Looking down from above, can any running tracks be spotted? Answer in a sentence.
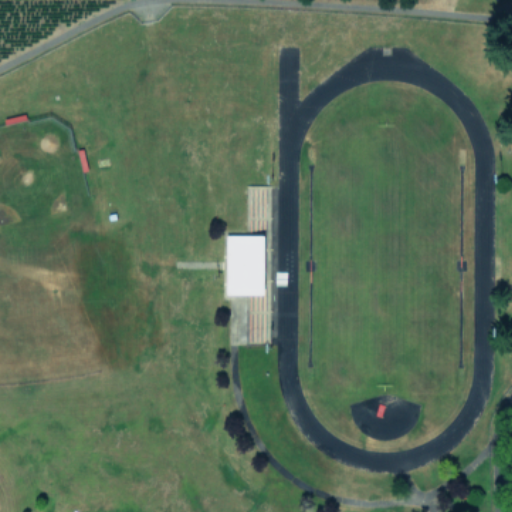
Yes, the picture does show a running track.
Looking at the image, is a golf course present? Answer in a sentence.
No, the scene contains no golf course.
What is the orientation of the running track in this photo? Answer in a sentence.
The running track has been laid out up and down relative to the frame.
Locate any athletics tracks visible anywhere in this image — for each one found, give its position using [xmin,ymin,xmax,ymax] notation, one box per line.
[278,48,496,472]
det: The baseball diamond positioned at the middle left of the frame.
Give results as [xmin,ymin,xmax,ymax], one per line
[0,119,117,384]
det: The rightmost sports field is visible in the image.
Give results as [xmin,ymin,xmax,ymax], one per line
[298,80,475,452]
